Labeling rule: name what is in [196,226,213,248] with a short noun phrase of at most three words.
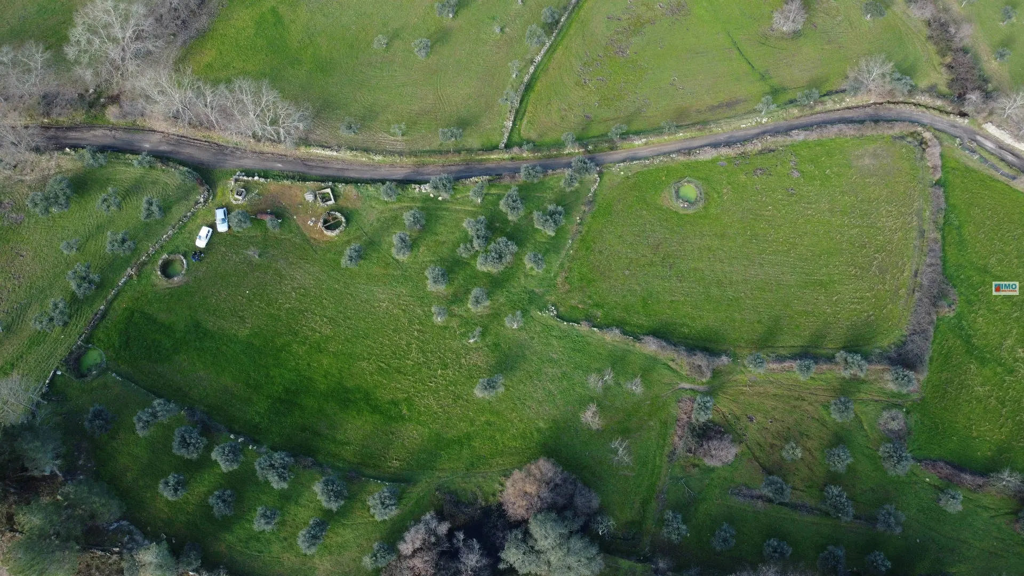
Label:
car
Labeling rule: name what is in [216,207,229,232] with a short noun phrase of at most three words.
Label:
vehicle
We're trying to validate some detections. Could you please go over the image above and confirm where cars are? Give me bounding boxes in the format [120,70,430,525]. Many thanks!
[196,226,213,248]
[216,207,229,232]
